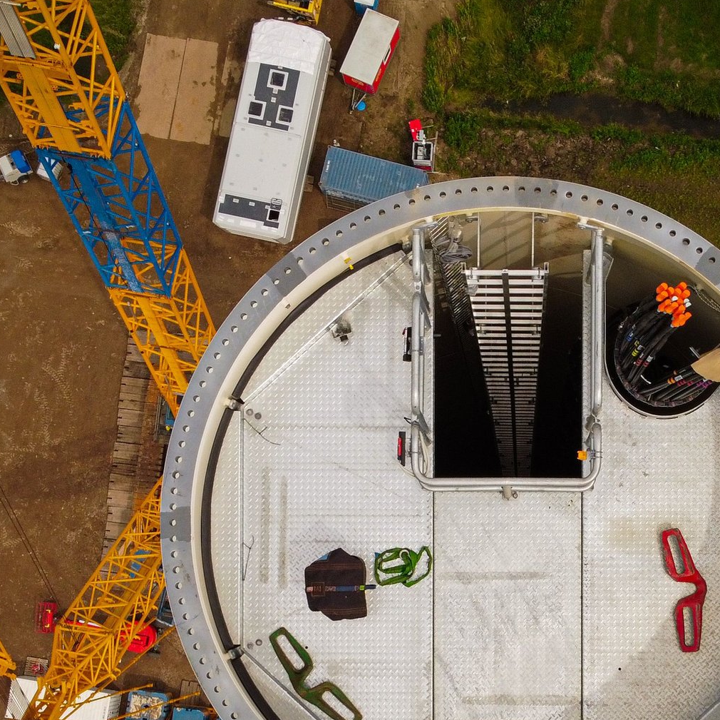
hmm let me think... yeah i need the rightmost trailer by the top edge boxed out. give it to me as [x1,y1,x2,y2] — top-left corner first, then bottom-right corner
[339,9,400,116]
